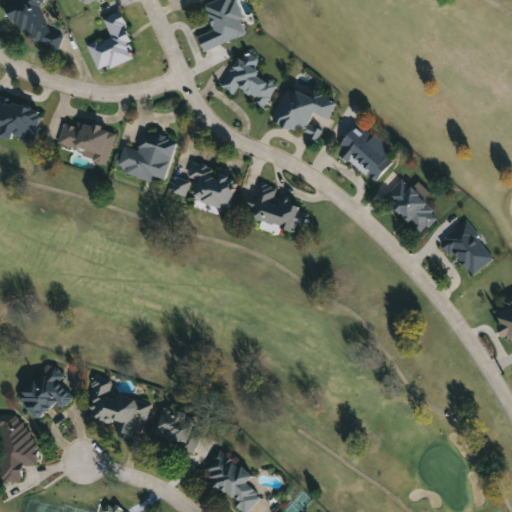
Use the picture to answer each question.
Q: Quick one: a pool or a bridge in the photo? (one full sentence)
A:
There is a pool in the scene.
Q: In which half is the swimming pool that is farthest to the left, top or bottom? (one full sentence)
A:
Seen from above, the swimming pool that is farthest to the left lies in the top half of the view.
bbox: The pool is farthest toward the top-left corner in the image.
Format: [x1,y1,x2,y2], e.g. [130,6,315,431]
[64,149,94,169]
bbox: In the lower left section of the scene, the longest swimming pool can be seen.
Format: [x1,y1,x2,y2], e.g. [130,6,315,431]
[112,376,147,394]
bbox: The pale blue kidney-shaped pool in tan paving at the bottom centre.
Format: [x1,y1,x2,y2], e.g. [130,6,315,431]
[254,470,285,500]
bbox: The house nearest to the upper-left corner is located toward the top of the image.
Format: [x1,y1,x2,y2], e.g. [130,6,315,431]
[3,0,66,50]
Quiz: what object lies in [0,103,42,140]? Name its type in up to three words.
house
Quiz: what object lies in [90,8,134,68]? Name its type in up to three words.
house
